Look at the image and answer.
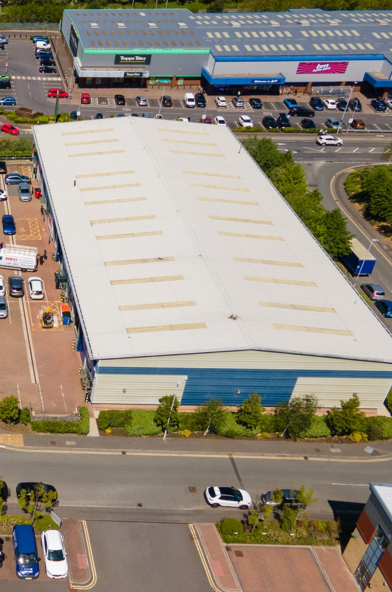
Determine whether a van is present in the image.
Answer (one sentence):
Yes, the image includes a van.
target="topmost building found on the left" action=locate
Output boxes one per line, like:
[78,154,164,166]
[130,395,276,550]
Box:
[58,8,208,85]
